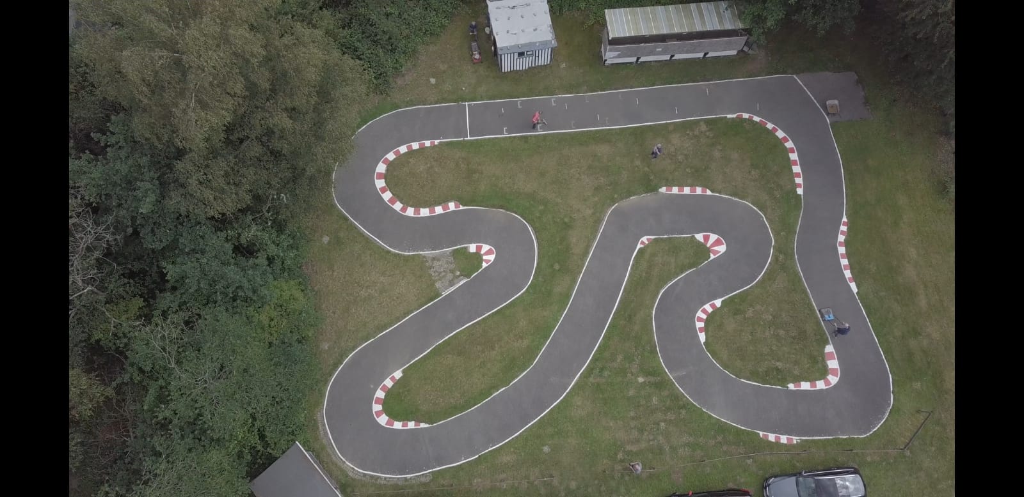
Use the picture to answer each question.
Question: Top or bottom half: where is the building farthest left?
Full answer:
You can find the building farthest left in the bottom half.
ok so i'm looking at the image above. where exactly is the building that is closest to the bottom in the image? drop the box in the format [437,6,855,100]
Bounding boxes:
[248,441,351,497]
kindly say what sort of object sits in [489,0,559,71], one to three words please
shed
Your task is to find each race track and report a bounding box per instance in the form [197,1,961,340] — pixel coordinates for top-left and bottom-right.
[323,73,894,479]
